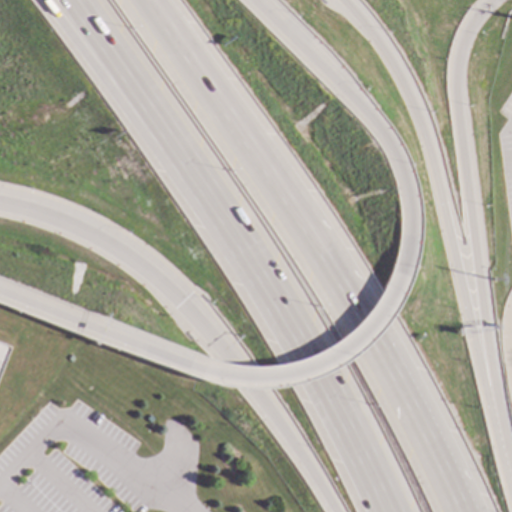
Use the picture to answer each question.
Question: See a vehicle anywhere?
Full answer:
Yes, the picture does show a vehicle.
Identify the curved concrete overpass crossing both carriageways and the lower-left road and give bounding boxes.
[0,197,424,388]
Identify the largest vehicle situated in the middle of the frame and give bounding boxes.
[236,207,253,229]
